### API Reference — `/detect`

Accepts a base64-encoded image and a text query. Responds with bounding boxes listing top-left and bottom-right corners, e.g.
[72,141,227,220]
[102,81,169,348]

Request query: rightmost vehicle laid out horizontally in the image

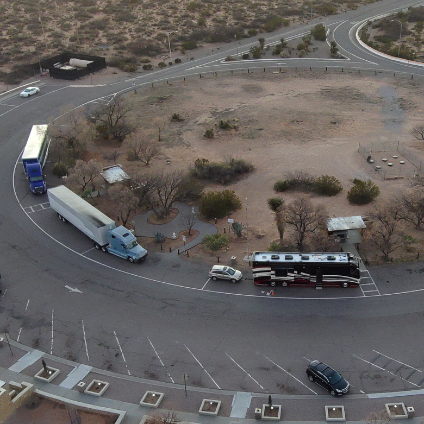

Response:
[255,253,362,288]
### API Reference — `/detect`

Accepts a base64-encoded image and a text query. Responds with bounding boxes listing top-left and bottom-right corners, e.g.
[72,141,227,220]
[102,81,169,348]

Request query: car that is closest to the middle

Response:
[207,262,244,281]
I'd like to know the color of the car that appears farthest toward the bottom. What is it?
black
